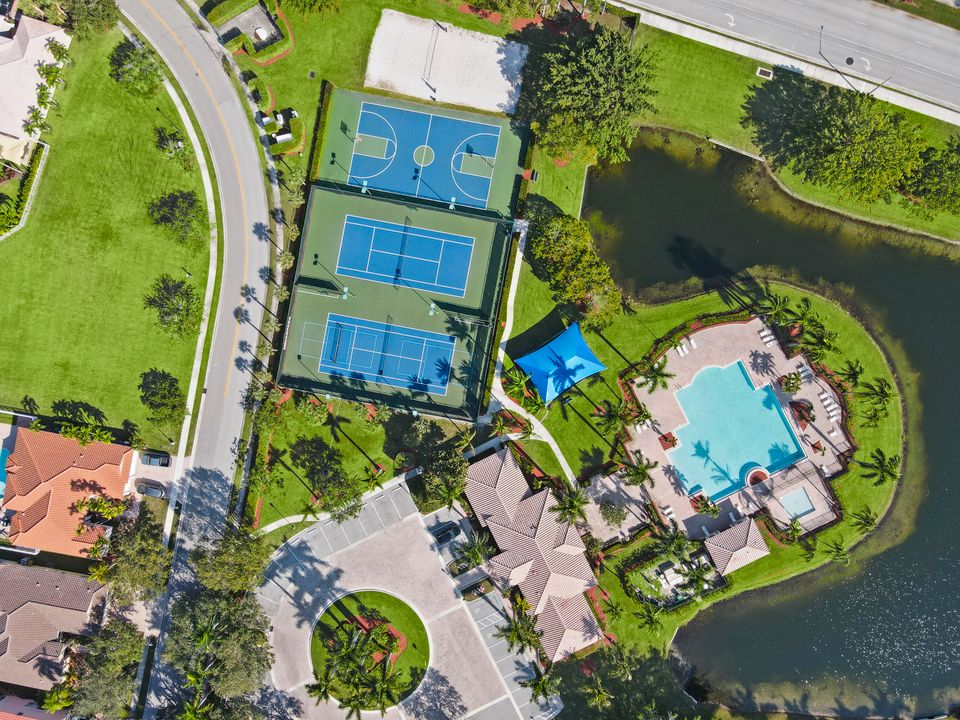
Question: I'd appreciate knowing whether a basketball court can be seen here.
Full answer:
Yes, looking at the shot, I can spot a basketball court.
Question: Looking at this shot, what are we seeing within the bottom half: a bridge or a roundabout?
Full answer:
Visible within the bottom half is a roundabout.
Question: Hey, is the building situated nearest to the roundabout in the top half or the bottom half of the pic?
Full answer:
The building situated nearest to the roundabout is in the bottom half of the image.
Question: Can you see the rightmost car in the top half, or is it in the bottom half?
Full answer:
Seen from above, the rightmost car lies in the bottom half of the view.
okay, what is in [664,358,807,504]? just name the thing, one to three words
swimming pool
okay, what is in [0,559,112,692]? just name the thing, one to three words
house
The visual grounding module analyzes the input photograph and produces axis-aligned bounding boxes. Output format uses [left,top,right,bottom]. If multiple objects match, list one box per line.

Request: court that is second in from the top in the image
[313,88,527,220]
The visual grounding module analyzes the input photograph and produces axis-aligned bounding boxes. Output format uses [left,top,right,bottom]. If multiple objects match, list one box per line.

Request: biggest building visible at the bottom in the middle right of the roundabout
[458,446,605,663]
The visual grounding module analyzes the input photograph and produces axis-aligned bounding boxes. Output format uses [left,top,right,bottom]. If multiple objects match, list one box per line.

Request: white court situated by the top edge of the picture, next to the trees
[365,9,529,113]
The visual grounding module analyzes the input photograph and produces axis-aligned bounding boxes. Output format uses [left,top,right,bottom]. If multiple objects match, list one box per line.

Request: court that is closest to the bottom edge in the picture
[283,288,494,419]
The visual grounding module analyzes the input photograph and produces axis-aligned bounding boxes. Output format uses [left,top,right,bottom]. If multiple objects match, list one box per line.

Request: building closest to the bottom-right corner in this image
[700,516,771,578]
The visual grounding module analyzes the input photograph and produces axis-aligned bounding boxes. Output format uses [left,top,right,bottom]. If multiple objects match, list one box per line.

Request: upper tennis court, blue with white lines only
[299,190,512,322]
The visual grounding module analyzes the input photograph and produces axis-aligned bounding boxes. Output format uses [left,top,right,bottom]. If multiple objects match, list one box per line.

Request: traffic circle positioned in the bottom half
[308,589,431,712]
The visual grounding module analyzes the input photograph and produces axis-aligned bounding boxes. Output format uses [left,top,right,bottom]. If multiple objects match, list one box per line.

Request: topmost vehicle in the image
[139,454,171,467]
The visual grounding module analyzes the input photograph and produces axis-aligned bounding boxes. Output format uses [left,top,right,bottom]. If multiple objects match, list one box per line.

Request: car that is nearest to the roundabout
[434,522,461,543]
